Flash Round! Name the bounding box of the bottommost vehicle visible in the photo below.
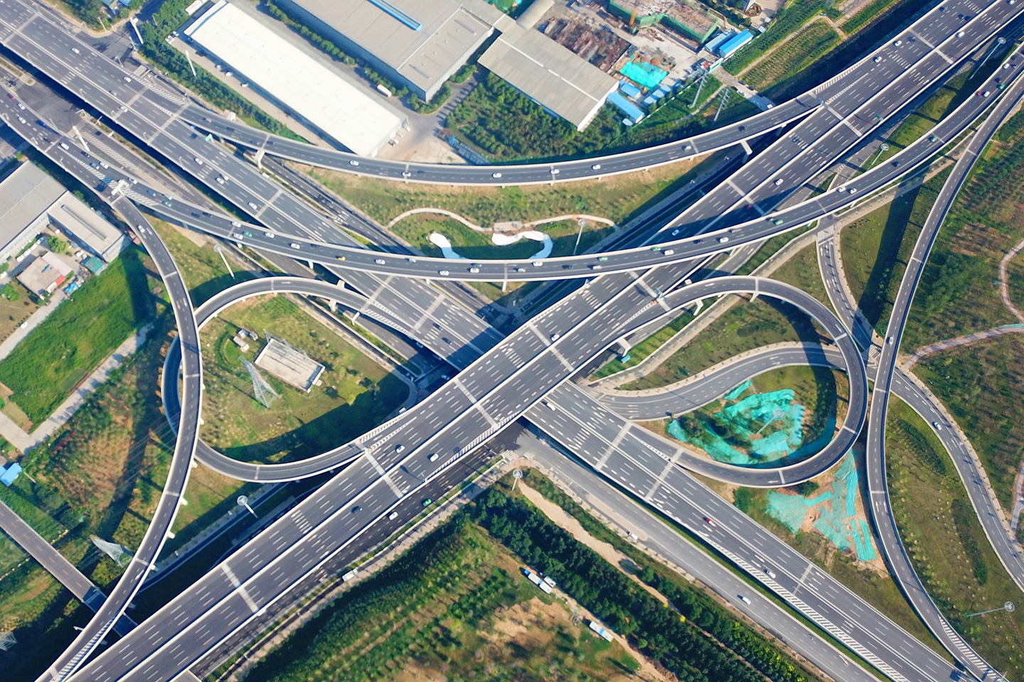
[587,620,616,644]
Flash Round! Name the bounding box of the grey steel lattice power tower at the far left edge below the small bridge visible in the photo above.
[0,623,25,657]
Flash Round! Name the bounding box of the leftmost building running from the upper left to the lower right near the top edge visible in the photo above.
[184,0,401,157]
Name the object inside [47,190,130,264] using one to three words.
building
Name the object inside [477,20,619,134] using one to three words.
warehouse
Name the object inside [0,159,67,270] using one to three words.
building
